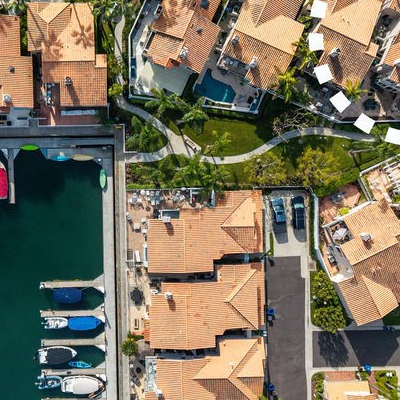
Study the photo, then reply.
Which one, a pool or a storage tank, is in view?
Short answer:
pool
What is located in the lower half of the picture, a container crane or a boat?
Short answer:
boat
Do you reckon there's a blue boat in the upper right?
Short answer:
No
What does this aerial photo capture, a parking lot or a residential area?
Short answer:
residential area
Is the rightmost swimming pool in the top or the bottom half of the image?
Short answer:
top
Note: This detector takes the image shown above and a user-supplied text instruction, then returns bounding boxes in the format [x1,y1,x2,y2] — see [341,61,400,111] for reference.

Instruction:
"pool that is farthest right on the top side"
[193,67,238,104]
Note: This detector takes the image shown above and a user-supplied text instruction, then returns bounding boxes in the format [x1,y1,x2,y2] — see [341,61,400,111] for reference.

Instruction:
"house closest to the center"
[143,190,263,272]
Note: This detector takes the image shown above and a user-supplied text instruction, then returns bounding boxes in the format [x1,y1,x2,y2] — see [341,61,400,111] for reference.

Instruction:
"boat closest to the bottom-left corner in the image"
[33,377,62,389]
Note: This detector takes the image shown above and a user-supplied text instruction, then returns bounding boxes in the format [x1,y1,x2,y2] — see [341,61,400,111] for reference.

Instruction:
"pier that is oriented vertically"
[41,150,113,400]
